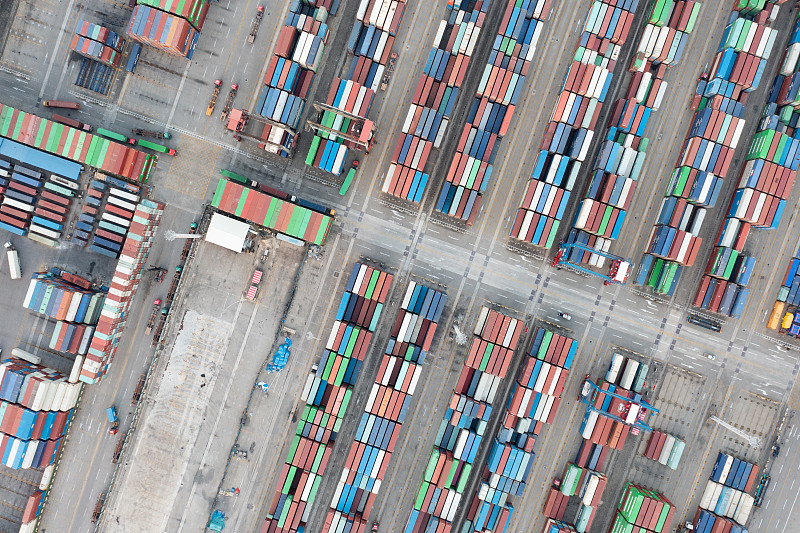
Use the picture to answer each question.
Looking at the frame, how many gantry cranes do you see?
4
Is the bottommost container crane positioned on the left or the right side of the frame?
right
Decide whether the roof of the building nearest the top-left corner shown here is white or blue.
blue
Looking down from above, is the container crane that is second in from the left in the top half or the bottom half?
top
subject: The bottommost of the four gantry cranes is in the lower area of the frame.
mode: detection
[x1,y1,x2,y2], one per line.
[575,370,661,434]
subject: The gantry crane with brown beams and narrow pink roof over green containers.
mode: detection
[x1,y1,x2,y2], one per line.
[304,96,378,160]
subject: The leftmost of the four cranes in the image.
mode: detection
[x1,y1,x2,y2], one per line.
[222,104,302,166]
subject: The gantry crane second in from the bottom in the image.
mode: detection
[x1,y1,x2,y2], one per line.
[549,234,635,290]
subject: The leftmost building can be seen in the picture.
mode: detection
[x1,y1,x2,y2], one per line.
[0,138,88,181]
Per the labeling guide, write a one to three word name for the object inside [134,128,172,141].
vehicle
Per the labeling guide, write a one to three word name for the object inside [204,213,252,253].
shed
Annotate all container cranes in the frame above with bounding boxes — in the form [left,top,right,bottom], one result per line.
[222,104,302,166]
[575,370,661,434]
[304,96,378,160]
[549,234,635,290]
